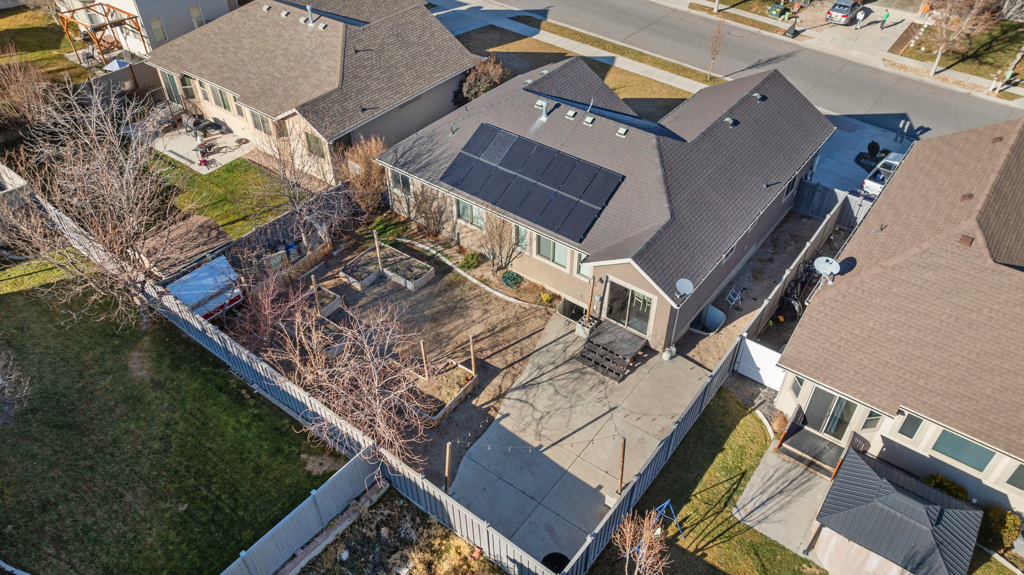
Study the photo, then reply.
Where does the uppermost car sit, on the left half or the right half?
right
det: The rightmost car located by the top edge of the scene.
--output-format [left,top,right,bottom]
[828,0,864,21]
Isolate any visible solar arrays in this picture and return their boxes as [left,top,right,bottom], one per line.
[438,120,622,239]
